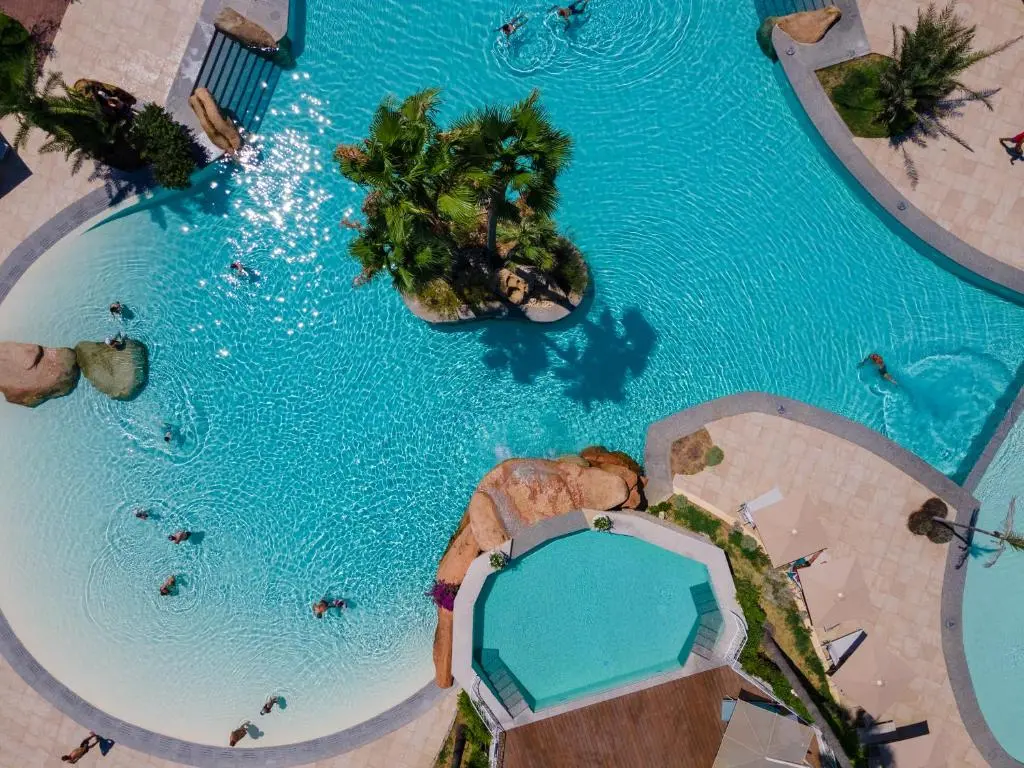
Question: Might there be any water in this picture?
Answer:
Yes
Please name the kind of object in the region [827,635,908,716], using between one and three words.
umbrella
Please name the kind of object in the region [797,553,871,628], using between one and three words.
umbrella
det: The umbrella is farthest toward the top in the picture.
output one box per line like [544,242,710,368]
[753,493,828,568]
